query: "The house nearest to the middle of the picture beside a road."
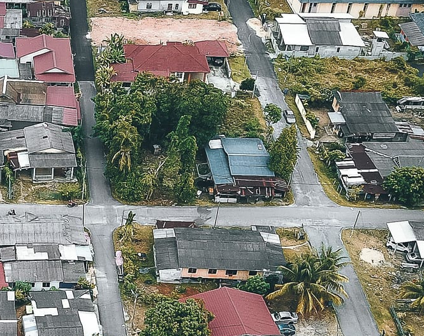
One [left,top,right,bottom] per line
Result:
[204,138,288,206]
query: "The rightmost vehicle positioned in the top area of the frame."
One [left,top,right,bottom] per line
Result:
[394,95,424,112]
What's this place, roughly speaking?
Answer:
residential area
